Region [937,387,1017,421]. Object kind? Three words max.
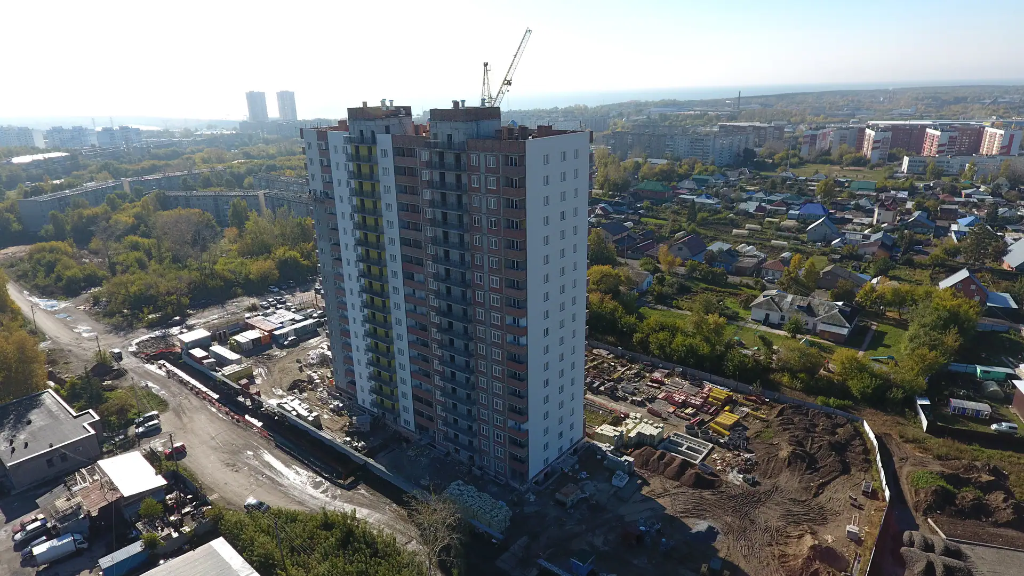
greenhouse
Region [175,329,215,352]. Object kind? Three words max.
building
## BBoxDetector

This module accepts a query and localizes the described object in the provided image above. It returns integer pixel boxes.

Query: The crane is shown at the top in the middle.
[478,29,532,106]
